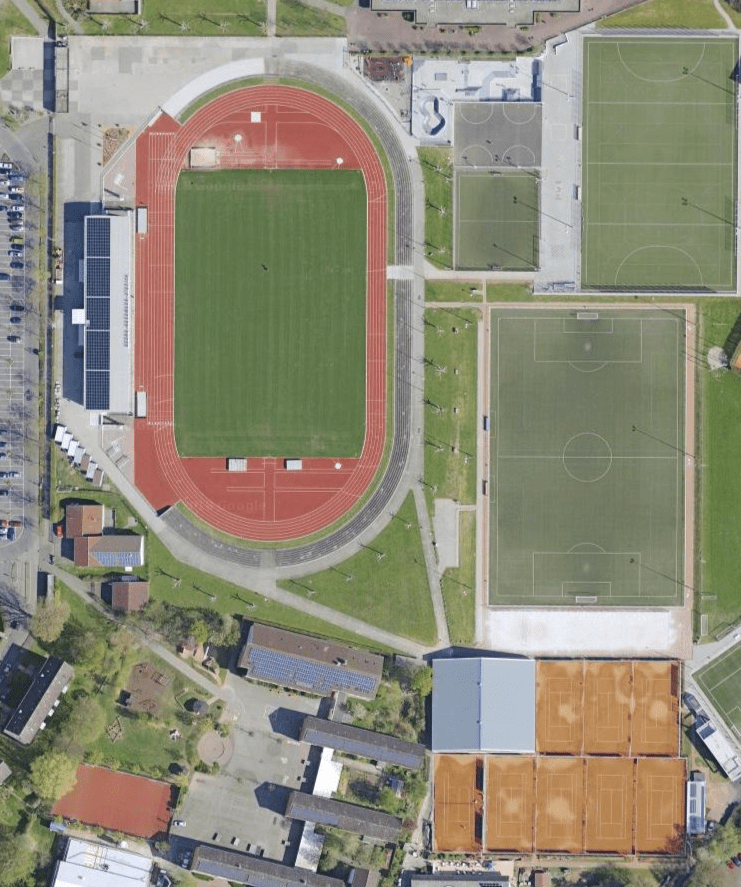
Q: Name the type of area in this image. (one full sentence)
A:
The area seen from above is a sports ground.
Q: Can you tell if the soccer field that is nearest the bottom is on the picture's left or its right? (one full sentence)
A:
It is on the right.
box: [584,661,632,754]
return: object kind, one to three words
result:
tennis court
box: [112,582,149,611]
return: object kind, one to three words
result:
house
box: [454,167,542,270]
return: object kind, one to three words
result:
soccer field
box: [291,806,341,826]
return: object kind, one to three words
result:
solar panel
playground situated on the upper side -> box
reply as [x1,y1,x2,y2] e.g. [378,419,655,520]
[363,57,404,81]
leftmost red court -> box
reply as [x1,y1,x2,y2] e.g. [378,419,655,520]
[53,763,174,838]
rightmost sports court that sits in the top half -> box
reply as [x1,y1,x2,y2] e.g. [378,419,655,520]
[453,101,543,167]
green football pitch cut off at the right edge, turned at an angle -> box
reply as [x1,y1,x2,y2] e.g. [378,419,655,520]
[691,641,741,738]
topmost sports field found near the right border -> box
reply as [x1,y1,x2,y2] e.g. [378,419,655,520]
[582,37,739,291]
